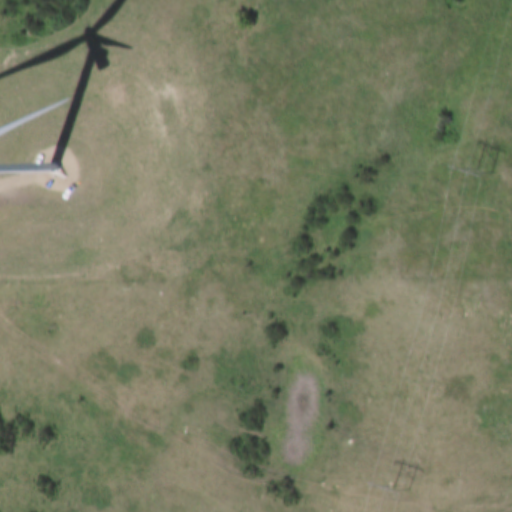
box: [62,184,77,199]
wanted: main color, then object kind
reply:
white vehicle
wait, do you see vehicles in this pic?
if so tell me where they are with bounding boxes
[46,179,55,188]
[62,184,77,199]
[34,154,44,164]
